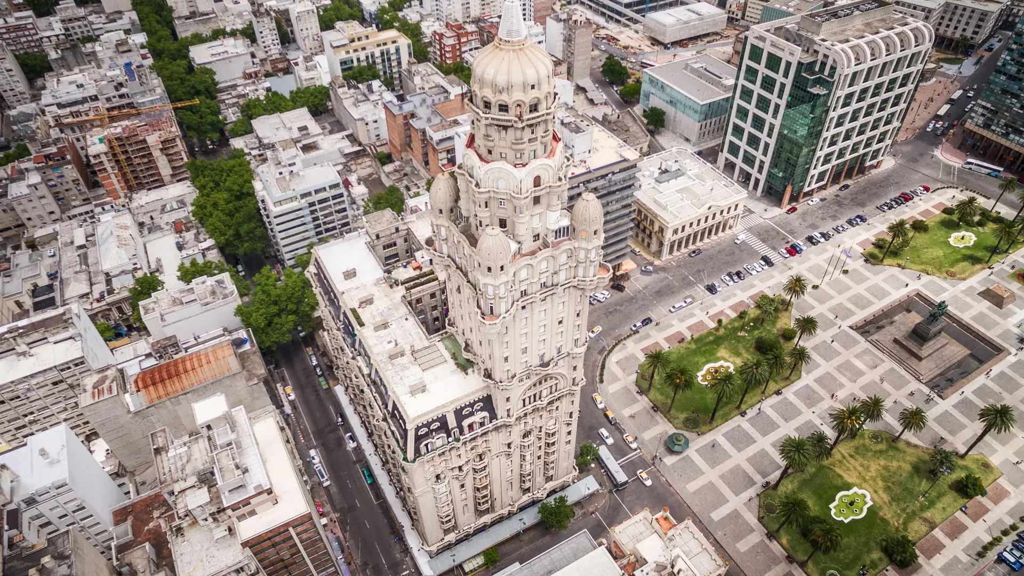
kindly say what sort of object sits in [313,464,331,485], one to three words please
vehicle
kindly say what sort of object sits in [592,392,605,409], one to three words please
vehicle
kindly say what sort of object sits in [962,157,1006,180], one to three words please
bus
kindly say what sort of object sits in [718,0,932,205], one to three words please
building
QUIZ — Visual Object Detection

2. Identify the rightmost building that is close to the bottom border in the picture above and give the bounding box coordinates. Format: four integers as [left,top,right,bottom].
[607,485,744,576]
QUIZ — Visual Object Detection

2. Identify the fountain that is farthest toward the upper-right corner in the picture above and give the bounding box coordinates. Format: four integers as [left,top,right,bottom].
[948,230,977,247]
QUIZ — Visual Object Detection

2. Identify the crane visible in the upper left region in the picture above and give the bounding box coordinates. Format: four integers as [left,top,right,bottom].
[67,97,199,209]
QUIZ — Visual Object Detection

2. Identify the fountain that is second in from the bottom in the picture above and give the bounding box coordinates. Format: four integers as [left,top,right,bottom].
[698,358,735,384]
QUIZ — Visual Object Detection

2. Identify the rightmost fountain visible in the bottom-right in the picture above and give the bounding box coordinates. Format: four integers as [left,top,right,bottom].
[830,486,874,522]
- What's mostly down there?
buildings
